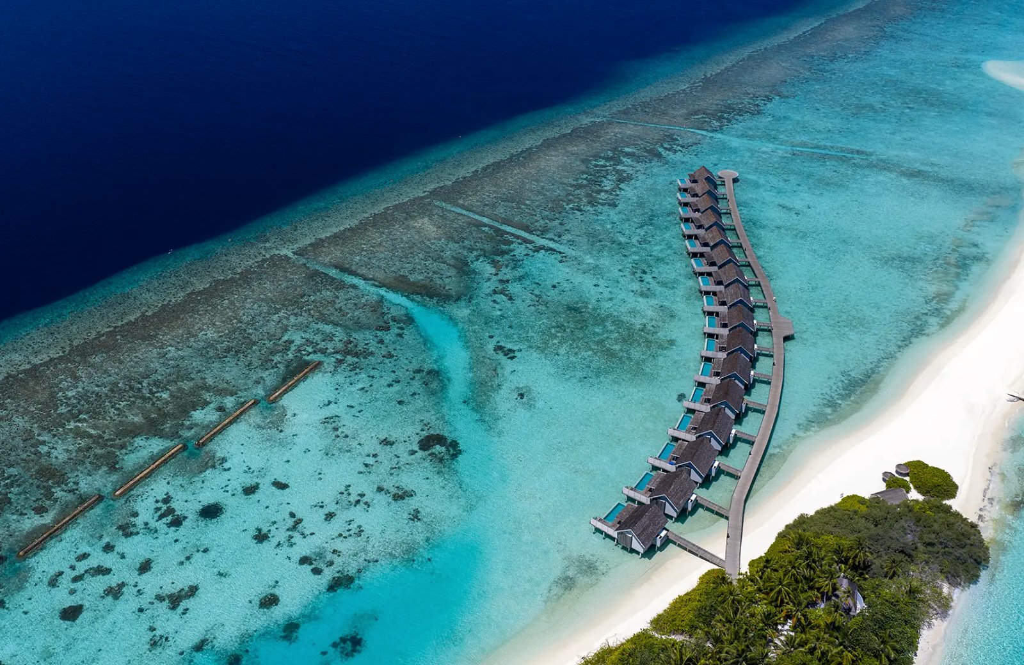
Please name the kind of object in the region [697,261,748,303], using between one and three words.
house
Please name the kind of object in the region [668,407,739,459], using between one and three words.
house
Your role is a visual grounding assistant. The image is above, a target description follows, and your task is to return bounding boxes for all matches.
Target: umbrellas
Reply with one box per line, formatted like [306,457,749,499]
[882,469,896,480]
[894,461,911,474]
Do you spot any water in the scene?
Yes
